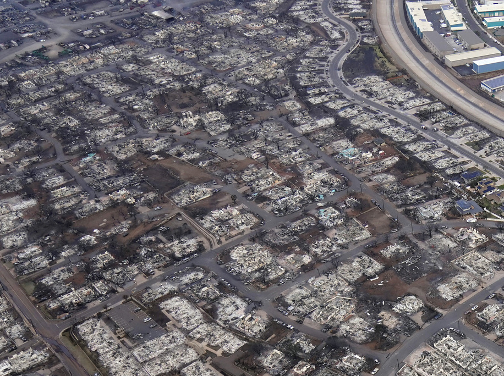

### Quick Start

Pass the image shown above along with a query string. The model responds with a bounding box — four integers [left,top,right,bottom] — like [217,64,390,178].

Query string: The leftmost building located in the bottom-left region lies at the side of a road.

[76,317,117,350]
